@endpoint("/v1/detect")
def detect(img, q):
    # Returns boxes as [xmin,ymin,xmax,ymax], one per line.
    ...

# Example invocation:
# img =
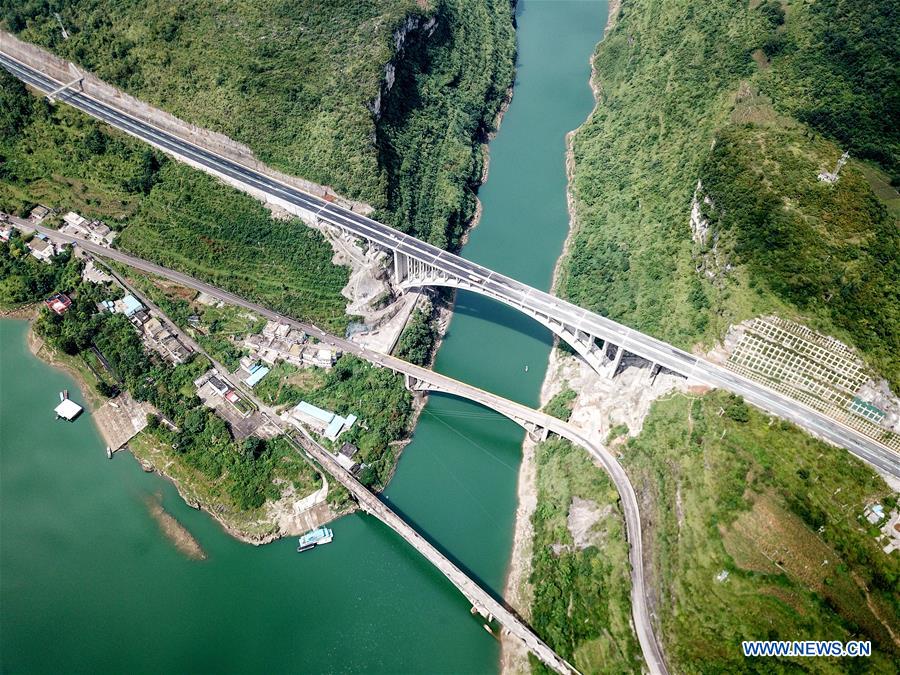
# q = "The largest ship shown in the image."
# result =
[299,529,332,548]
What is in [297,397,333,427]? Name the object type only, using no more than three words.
house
